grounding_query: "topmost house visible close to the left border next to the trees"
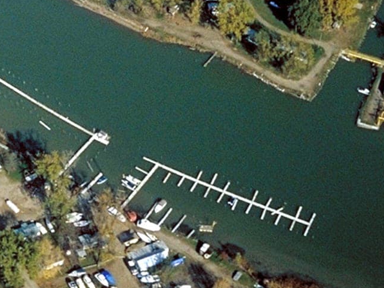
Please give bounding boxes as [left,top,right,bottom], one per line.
[13,221,48,240]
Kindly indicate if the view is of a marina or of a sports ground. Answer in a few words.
marina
